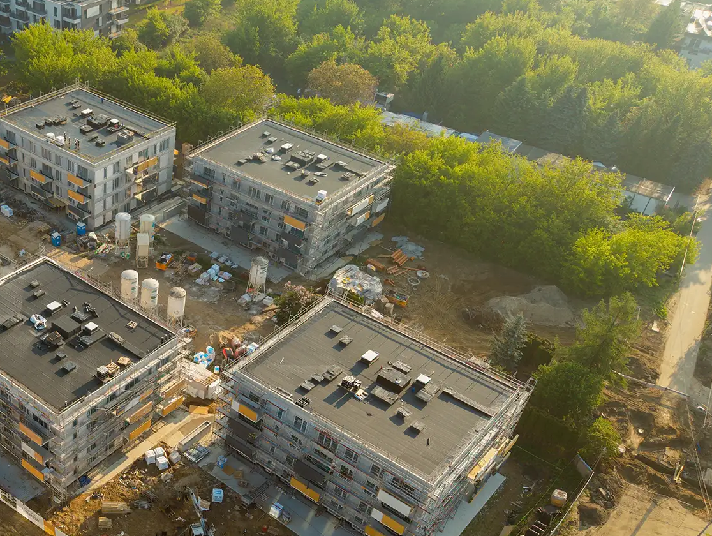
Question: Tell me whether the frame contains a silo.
Yes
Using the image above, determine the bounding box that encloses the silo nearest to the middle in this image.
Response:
[247,260,268,302]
